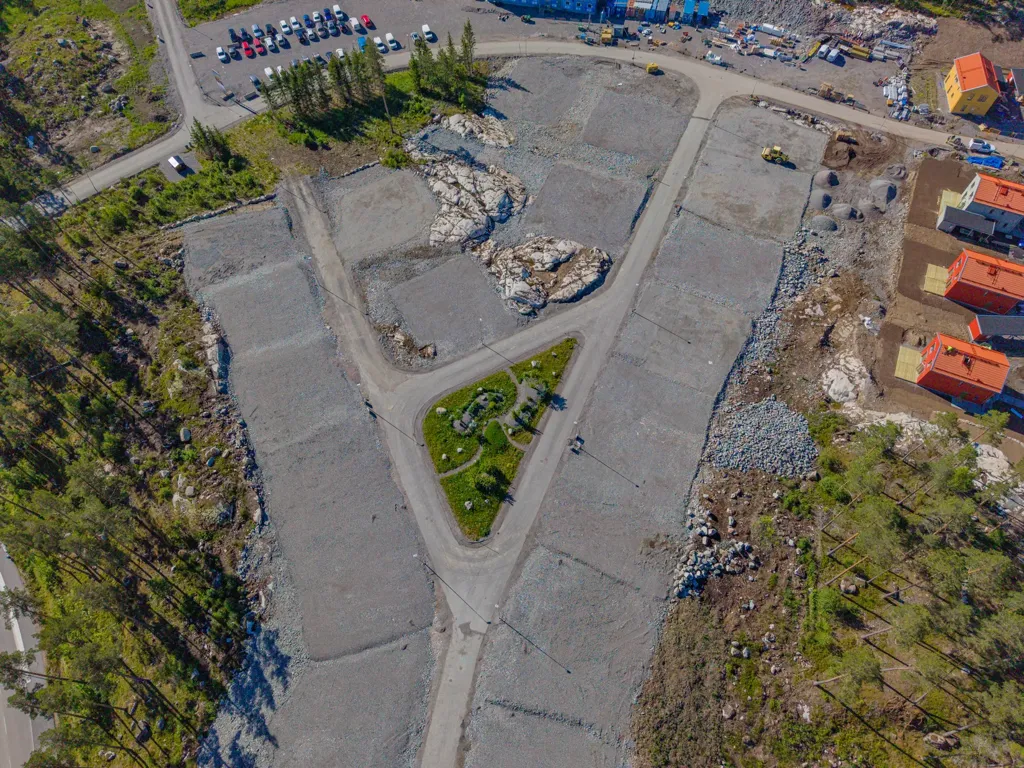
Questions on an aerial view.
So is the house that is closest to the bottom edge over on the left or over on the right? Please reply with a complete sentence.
You can find the house that is closest to the bottom edge on the right side of the picture.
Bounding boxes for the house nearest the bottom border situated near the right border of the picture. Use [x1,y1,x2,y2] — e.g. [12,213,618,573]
[918,333,1010,404]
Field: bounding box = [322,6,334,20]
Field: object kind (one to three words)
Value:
vehicle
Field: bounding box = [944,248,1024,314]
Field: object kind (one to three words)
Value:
house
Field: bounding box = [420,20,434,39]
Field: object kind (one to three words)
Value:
vehicle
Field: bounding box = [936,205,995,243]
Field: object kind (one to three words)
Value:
shed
